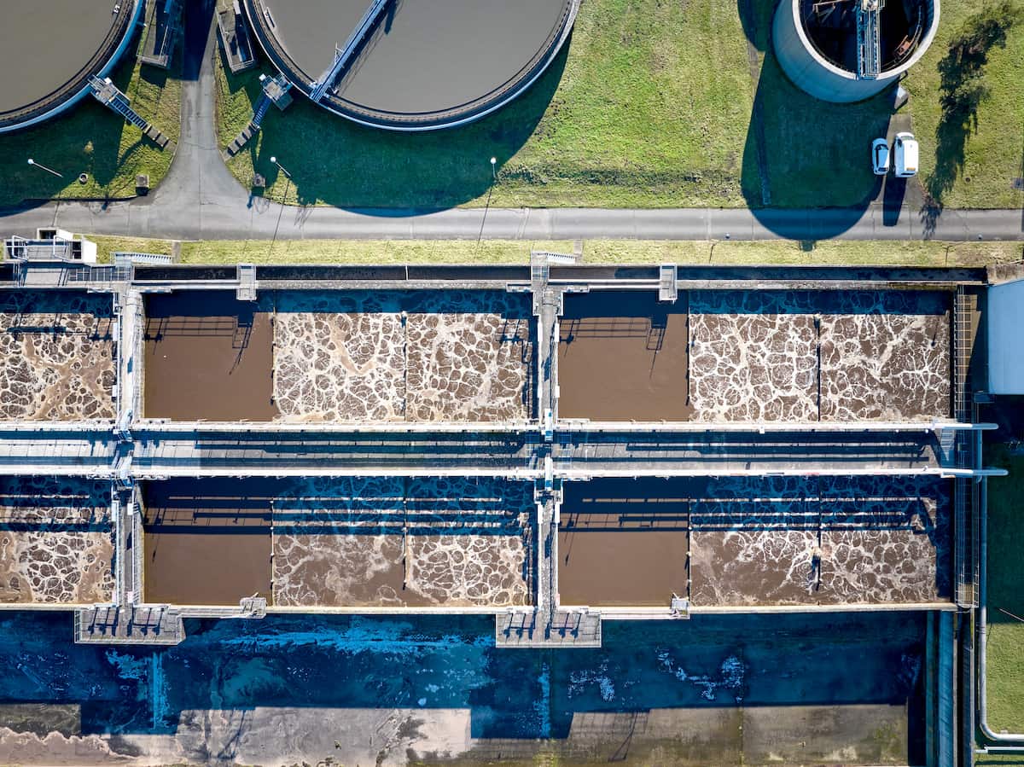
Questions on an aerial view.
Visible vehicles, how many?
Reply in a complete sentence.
In total, 2 vehicles can be seen.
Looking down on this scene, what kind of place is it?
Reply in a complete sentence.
The picture captures an industrial area.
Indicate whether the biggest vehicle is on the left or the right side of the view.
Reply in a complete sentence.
The biggest vehicle is on the right side of the image.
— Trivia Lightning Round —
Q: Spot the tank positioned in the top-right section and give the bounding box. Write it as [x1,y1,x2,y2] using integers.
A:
[772,0,940,102]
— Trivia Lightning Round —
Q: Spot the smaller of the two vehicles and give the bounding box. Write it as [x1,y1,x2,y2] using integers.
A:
[873,138,895,173]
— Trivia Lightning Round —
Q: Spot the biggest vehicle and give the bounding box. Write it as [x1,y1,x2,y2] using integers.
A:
[896,132,922,176]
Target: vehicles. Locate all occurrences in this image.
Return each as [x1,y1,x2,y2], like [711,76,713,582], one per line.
[896,132,922,176]
[873,138,895,173]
